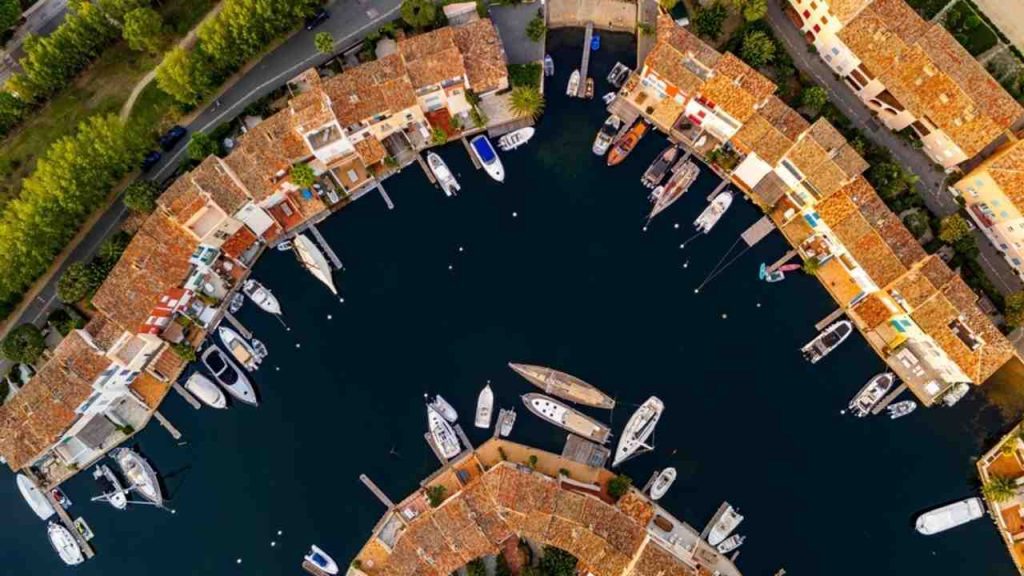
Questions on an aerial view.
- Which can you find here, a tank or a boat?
boat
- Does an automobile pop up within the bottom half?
No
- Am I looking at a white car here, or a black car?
black car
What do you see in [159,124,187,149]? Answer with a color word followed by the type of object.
black car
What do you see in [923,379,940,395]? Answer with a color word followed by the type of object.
white umbrella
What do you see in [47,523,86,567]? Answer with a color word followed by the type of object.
white boat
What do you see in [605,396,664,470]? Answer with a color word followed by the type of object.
white boat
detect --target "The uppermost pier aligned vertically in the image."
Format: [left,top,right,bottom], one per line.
[574,24,592,98]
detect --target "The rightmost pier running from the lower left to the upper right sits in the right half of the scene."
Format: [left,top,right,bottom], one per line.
[871,381,907,416]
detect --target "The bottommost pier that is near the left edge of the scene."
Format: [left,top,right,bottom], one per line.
[45,488,98,559]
